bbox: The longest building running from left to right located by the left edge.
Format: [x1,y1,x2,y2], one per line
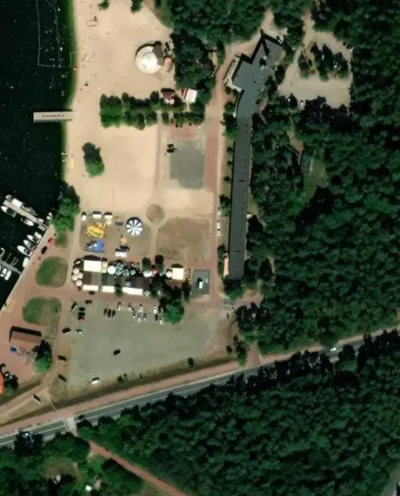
[9,330,42,350]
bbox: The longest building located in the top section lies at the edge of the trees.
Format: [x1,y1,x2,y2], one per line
[227,38,282,280]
